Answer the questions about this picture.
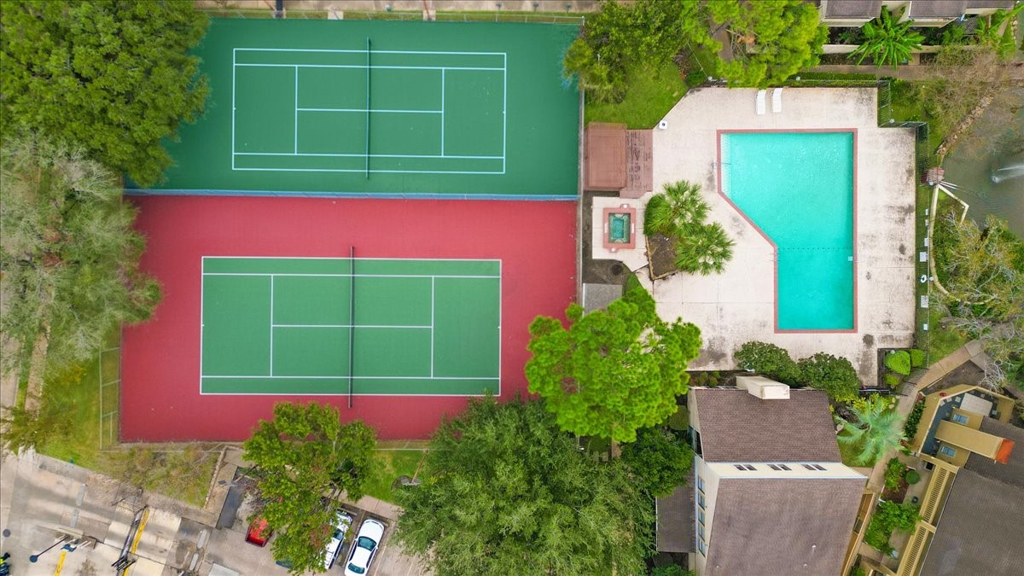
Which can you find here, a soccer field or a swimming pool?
swimming pool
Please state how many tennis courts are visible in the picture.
2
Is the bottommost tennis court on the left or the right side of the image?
left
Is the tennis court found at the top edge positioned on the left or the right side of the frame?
left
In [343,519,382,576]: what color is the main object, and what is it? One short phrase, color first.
white car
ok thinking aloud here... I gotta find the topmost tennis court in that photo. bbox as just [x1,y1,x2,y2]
[120,16,582,196]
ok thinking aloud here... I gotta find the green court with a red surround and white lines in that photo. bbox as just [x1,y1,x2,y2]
[120,195,583,442]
